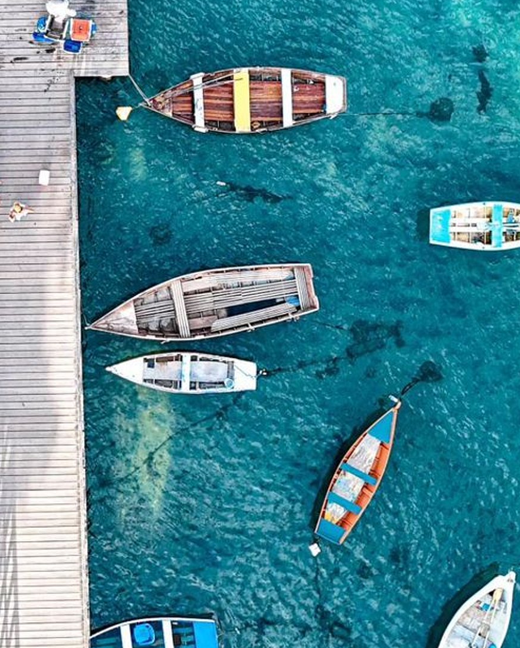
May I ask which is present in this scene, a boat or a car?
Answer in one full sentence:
It is a boat that can be seen here.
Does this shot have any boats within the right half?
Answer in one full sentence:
Yes, the scene does show a boat within the right half.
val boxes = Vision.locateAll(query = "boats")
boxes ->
[439,569,516,648]
[425,201,520,252]
[137,67,349,133]
[81,619,220,648]
[315,403,401,546]
[84,264,320,342]
[104,352,258,394]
